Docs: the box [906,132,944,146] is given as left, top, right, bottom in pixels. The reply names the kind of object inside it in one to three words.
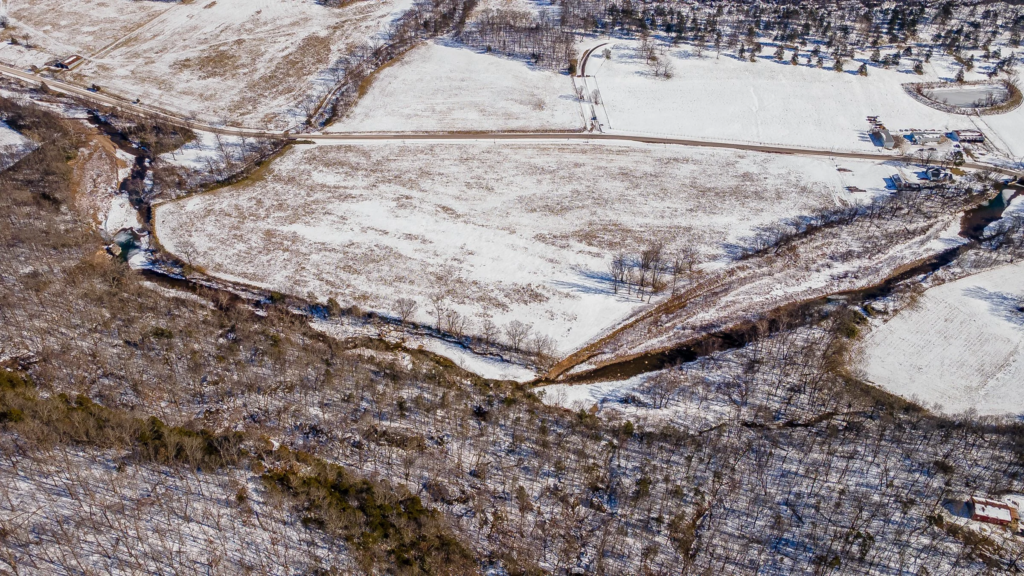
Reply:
house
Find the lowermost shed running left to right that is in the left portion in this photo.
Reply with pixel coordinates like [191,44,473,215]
[52,54,91,69]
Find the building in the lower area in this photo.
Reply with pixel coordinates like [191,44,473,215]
[964,492,1022,523]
